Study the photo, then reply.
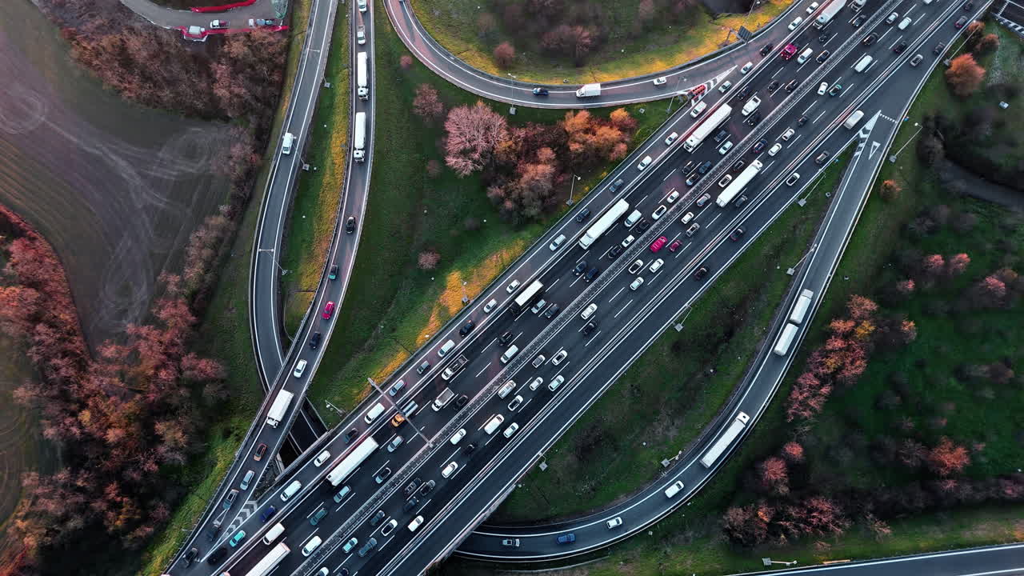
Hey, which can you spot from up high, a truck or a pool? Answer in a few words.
truck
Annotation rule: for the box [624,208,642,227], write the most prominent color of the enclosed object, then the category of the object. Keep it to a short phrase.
white vehicle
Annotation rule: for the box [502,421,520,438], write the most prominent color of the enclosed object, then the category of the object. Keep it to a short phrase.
white car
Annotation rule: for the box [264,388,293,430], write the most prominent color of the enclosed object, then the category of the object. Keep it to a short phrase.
white truck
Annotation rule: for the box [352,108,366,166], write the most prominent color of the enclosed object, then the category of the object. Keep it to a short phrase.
white vehicle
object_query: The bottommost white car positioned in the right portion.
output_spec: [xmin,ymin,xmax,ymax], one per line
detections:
[606,516,623,529]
